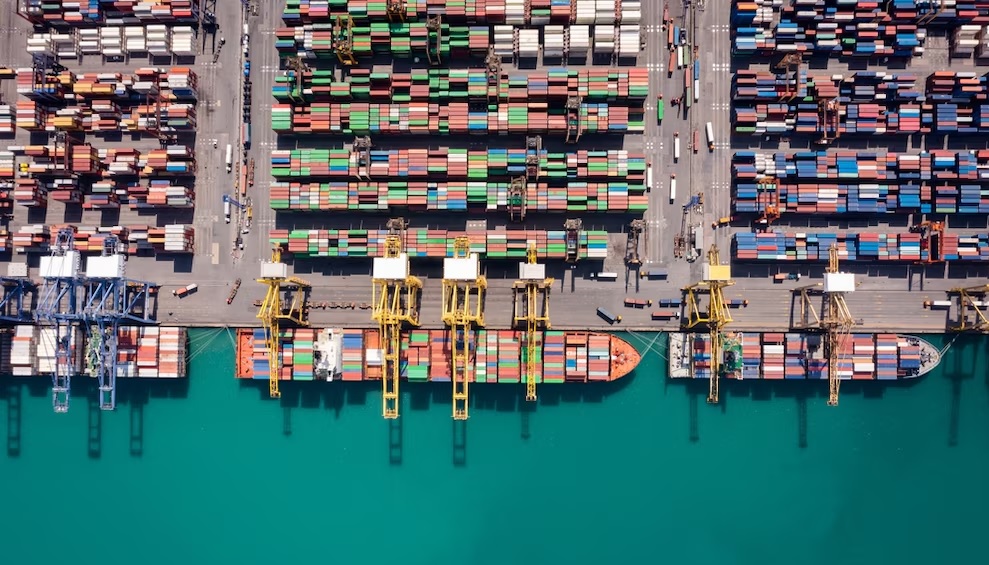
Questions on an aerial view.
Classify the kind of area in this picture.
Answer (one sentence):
The picture captures a port.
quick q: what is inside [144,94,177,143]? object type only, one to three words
container crane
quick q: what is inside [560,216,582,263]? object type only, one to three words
container crane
